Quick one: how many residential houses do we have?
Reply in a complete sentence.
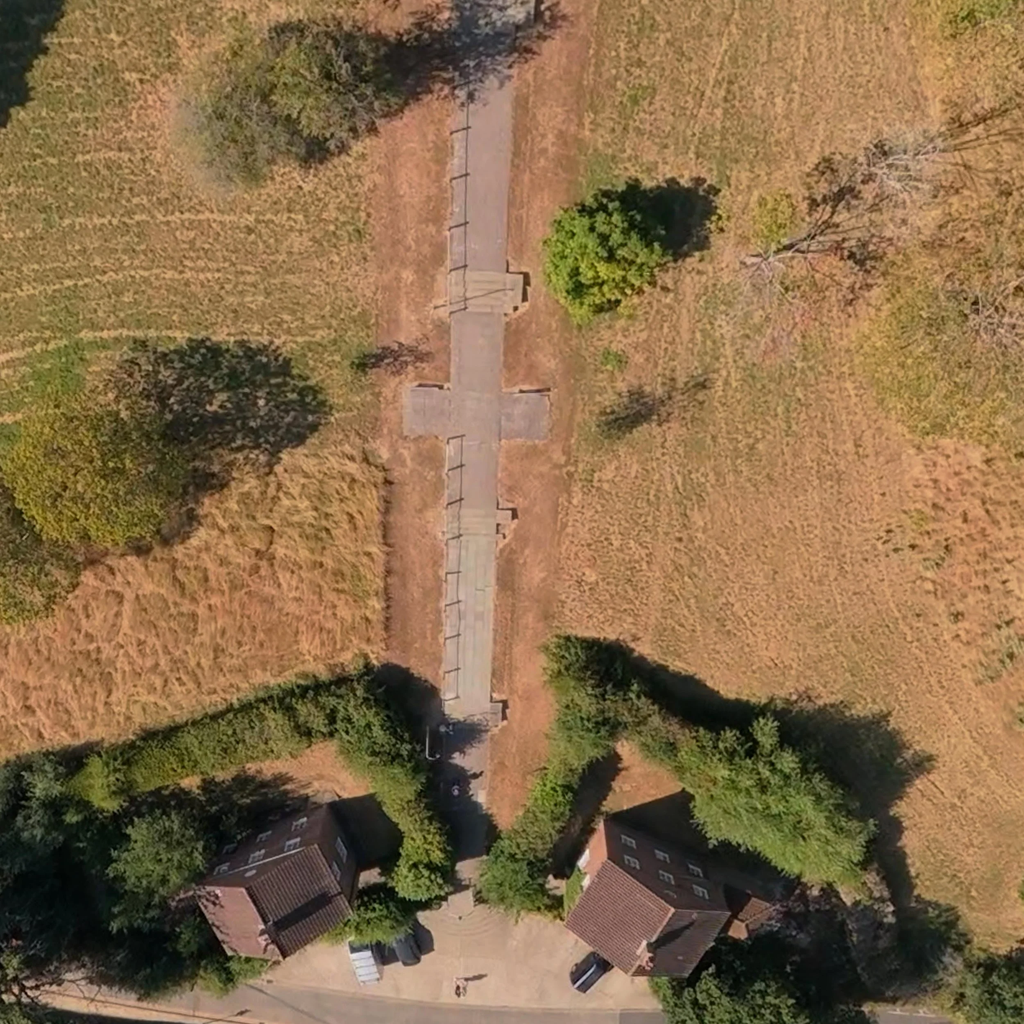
The picture shows 2 residential houses.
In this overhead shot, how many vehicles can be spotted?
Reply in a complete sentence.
The count of vehicles comes to 3.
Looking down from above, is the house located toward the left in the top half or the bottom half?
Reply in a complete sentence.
The bottom half of the photo is where the house located toward the left is.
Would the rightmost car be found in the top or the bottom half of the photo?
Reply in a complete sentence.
You can find the rightmost car in the bottom half.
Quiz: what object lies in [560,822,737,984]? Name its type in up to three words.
house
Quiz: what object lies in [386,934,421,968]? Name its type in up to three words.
car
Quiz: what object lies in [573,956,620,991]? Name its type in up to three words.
car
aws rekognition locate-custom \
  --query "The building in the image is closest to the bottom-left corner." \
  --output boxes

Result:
[197,807,357,966]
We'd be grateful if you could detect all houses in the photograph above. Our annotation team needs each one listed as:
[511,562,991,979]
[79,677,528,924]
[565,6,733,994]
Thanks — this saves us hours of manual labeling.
[560,822,737,984]
[197,807,357,966]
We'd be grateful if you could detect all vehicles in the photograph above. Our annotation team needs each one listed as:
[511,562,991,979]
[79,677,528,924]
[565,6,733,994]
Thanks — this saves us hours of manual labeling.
[386,934,421,968]
[347,941,383,983]
[573,956,620,991]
